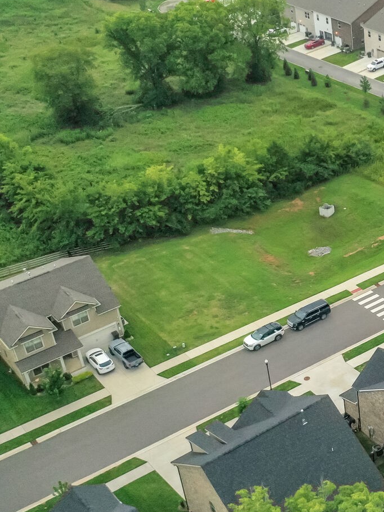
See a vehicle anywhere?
Yes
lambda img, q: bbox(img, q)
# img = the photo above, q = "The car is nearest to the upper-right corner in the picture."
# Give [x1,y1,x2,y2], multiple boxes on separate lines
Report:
[366,56,384,71]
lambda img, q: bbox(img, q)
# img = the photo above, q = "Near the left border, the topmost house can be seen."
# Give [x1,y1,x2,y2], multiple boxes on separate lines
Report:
[0,254,131,390]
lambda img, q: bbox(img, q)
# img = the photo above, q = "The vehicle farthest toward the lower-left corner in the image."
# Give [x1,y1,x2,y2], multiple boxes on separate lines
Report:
[88,350,116,377]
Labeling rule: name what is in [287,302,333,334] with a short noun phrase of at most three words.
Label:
car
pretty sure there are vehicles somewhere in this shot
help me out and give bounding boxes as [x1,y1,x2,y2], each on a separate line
[88,350,116,377]
[109,340,144,371]
[287,302,333,334]
[366,56,384,71]
[243,323,286,353]
[304,37,327,48]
